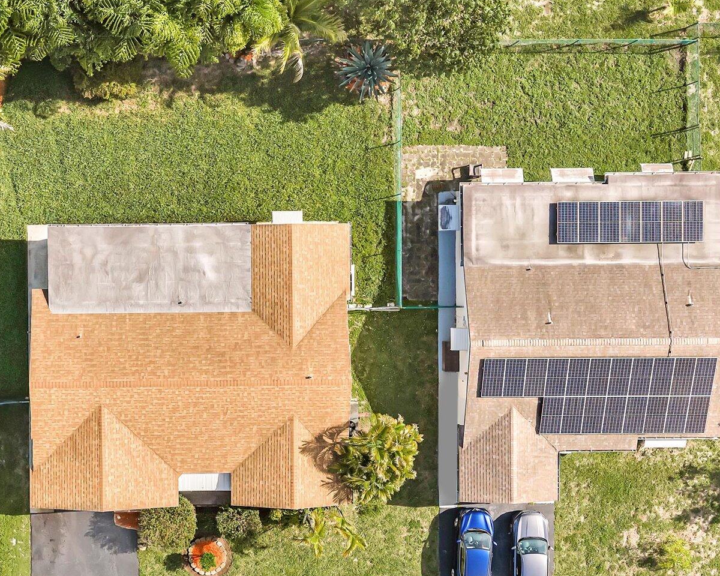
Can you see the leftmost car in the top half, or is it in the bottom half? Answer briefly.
bottom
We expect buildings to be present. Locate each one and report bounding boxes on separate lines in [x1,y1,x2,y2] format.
[29,210,355,511]
[438,163,720,505]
